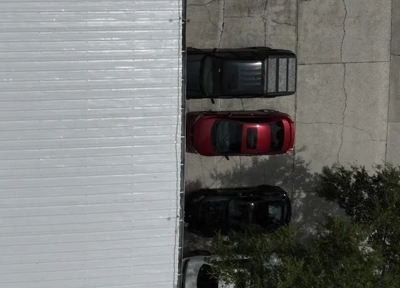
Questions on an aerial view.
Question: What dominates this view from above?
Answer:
buildings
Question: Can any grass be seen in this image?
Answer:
No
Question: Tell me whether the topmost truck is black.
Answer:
Yes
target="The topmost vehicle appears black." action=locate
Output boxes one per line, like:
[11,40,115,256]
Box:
[186,43,296,105]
